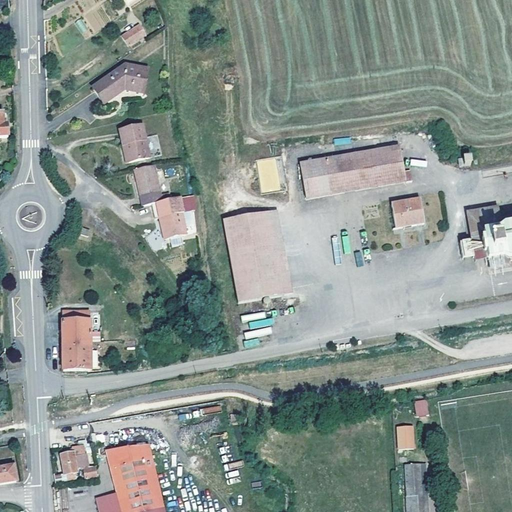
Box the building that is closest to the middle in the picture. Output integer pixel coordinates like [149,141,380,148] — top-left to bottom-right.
[222,209,292,306]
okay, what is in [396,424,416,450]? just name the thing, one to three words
shed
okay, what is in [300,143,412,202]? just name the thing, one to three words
building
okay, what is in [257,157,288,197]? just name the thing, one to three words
building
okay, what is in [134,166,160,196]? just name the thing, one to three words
house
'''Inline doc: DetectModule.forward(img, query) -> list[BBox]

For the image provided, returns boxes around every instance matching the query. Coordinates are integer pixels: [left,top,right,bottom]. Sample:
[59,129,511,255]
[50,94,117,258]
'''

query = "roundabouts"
[16,202,46,232]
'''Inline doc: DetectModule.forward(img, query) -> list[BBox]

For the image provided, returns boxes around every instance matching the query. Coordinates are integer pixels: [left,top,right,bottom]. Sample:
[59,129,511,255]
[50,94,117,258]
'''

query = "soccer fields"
[443,392,512,512]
